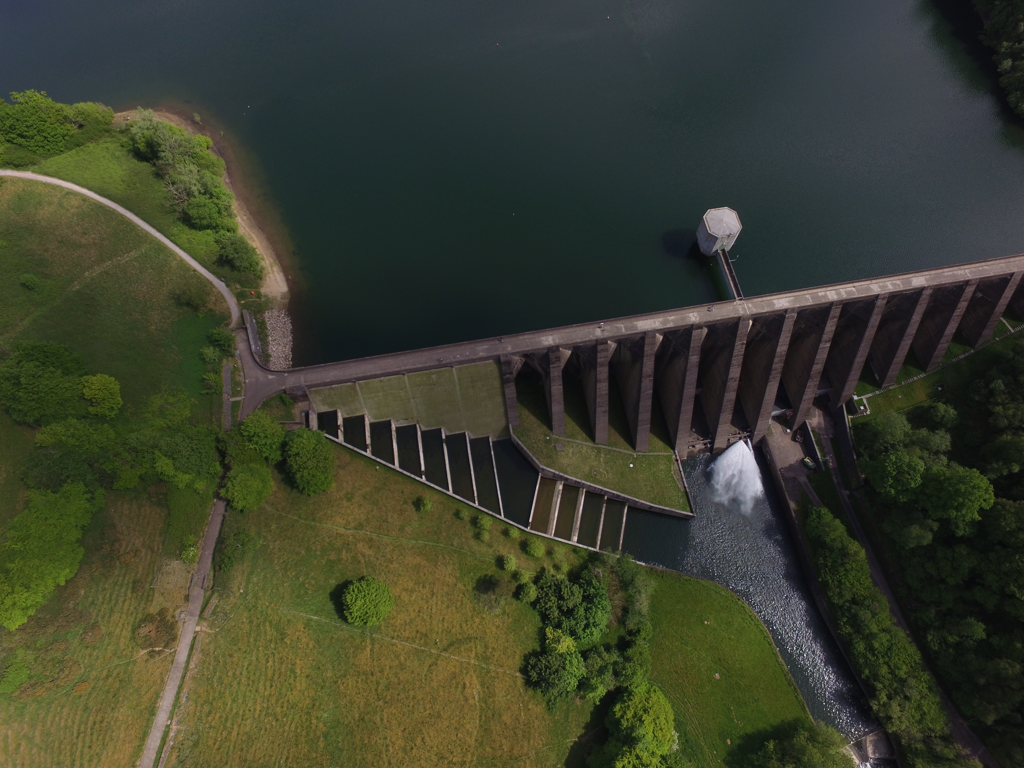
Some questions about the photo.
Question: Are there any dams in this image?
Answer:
Yes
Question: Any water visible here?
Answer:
Yes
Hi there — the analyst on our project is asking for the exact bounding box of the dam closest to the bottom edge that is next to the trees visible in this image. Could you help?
[844,729,894,768]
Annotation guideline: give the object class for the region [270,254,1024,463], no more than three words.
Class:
dam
